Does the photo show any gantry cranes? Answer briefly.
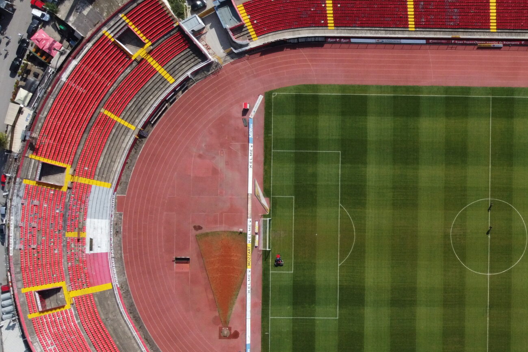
No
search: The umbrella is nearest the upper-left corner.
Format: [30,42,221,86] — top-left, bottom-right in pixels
[31,29,56,49]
